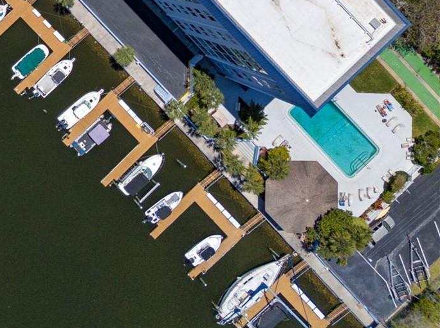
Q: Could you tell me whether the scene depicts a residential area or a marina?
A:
marina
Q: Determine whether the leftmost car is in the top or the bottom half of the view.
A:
bottom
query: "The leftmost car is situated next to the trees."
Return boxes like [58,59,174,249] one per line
[368,213,399,246]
